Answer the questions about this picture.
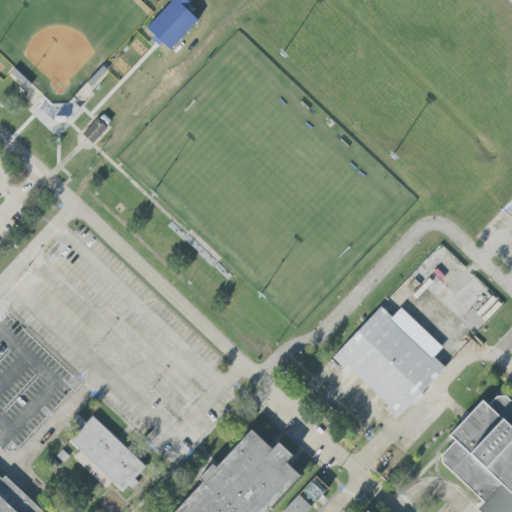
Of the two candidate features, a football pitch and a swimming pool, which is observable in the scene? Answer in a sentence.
Of the two, only a football pitch appears.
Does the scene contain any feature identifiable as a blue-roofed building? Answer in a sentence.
Yes, the frame does contain a blue-roofed building.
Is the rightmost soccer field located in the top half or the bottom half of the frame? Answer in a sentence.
Seen from above, the rightmost soccer field lies in the top half of the view.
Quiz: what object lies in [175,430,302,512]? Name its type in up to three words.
building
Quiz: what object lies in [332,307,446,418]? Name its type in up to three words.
building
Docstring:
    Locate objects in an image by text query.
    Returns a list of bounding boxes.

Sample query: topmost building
[148,0,198,48]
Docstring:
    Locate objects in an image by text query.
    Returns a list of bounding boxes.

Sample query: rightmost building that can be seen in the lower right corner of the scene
[443,396,512,512]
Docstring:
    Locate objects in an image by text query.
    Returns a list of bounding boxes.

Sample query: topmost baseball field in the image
[0,0,153,103]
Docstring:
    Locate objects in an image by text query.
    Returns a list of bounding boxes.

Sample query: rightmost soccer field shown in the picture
[118,30,416,327]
